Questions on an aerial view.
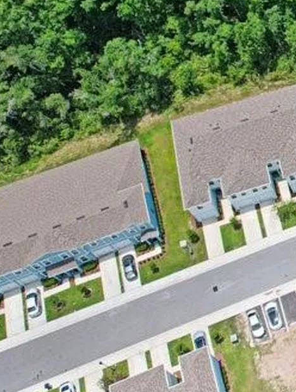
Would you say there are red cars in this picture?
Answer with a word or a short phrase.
No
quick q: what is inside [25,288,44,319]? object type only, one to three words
car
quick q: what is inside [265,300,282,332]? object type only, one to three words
car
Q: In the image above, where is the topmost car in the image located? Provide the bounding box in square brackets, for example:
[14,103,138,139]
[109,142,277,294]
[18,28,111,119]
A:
[121,252,140,283]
